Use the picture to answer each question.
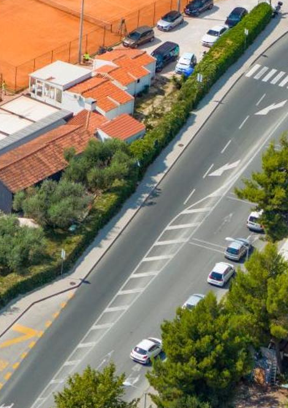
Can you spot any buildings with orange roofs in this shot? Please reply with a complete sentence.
Yes, there's a building with an orange roof down there.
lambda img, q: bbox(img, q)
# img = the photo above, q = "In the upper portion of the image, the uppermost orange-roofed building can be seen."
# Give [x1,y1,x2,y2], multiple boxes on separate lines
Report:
[65,48,157,120]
